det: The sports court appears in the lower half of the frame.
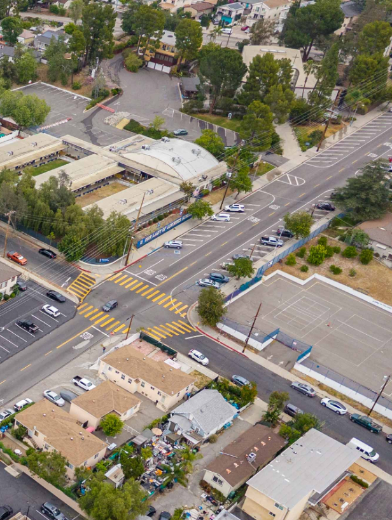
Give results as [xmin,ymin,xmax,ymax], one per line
[227,274,392,402]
